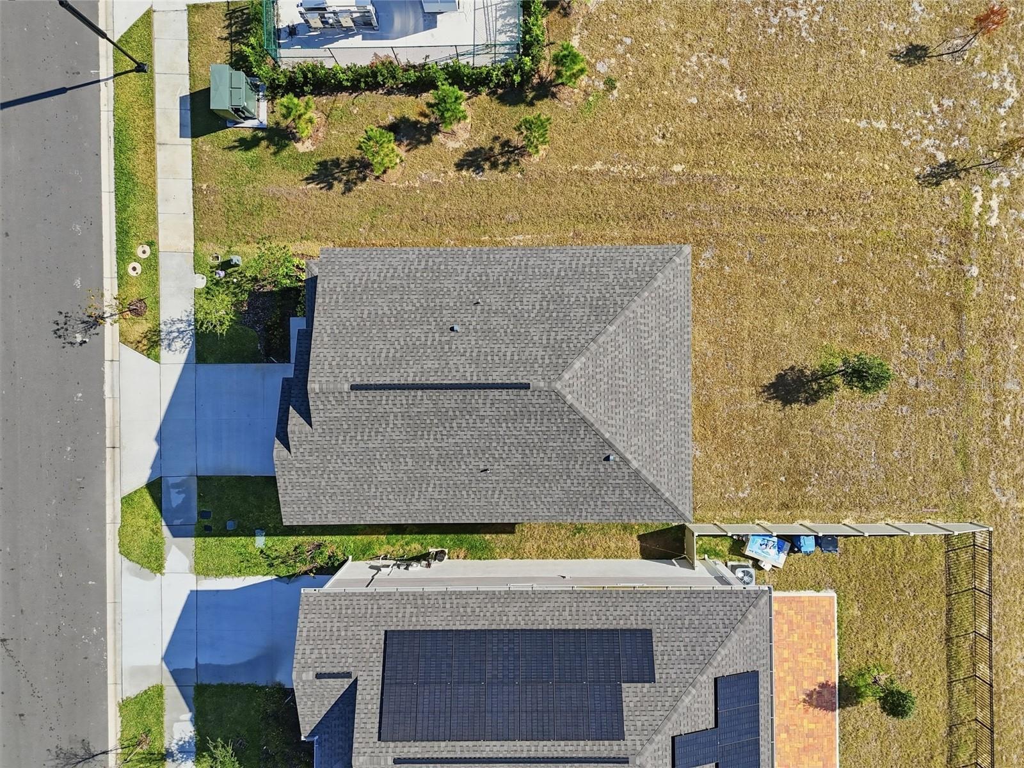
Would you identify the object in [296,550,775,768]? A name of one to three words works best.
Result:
house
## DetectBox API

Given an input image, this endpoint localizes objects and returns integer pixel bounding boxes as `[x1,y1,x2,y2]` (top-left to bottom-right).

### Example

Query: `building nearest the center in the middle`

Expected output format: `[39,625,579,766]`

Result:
[275,243,694,526]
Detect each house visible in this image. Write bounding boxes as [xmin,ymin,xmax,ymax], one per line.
[275,243,694,526]
[296,550,775,768]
